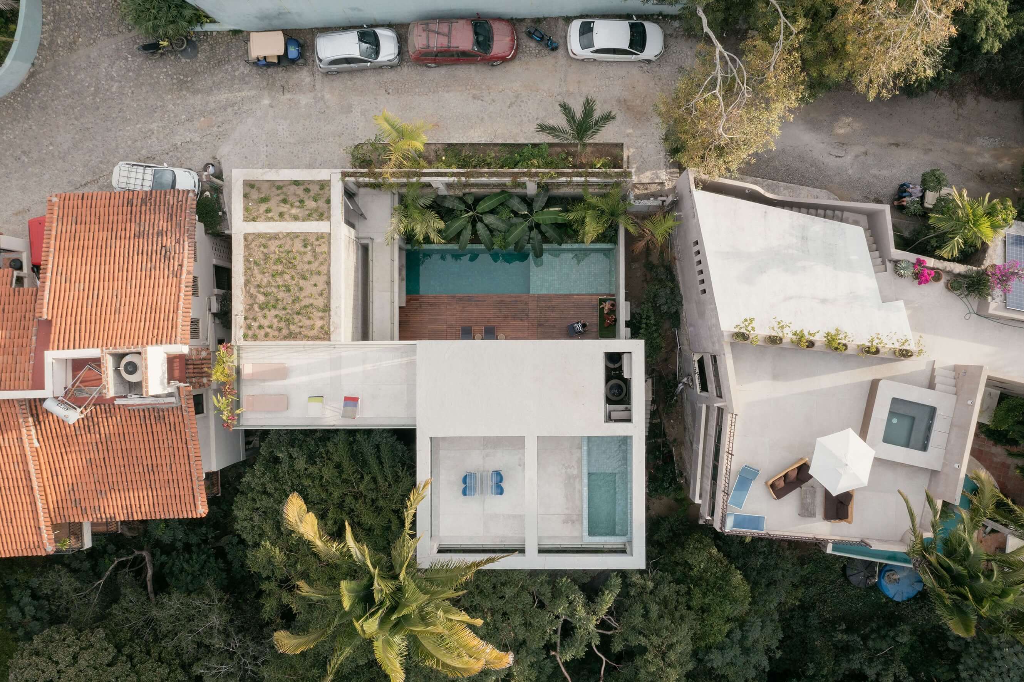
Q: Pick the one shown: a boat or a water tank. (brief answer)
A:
water tank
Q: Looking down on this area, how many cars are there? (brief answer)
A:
five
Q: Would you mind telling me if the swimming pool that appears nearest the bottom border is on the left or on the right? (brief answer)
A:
right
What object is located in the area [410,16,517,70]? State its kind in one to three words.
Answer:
car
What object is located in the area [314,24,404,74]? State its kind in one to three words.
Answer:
car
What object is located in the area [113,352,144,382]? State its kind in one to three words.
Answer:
water tank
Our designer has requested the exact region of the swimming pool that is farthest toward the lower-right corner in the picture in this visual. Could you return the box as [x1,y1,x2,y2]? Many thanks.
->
[807,537,917,572]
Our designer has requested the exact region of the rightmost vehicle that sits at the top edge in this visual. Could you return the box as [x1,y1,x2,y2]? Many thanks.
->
[567,14,666,66]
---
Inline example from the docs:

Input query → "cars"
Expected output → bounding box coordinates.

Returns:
[25,210,58,304]
[410,16,517,70]
[108,160,207,203]
[314,24,404,74]
[567,14,666,66]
